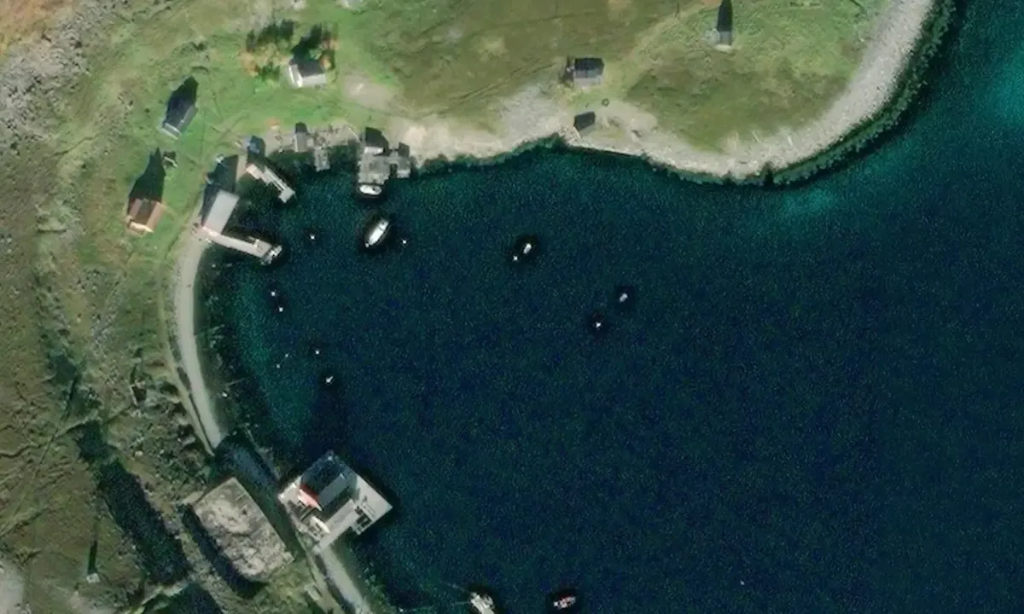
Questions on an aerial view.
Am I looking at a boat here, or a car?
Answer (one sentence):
It is a boat that can be seen here.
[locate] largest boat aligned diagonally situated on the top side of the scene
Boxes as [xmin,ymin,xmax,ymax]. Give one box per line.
[368,217,392,244]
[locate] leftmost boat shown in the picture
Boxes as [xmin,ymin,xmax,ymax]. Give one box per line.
[262,247,282,264]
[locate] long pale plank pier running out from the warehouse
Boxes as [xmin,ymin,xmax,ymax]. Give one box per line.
[197,230,272,259]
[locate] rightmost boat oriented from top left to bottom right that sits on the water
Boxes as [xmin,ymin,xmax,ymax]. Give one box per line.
[474,592,497,614]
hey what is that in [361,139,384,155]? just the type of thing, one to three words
shed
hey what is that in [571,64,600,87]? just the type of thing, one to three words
building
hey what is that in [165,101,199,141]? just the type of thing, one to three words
house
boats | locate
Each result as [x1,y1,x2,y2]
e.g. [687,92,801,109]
[524,241,533,254]
[474,592,497,614]
[262,247,282,264]
[360,185,385,194]
[368,217,392,244]
[557,595,576,606]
